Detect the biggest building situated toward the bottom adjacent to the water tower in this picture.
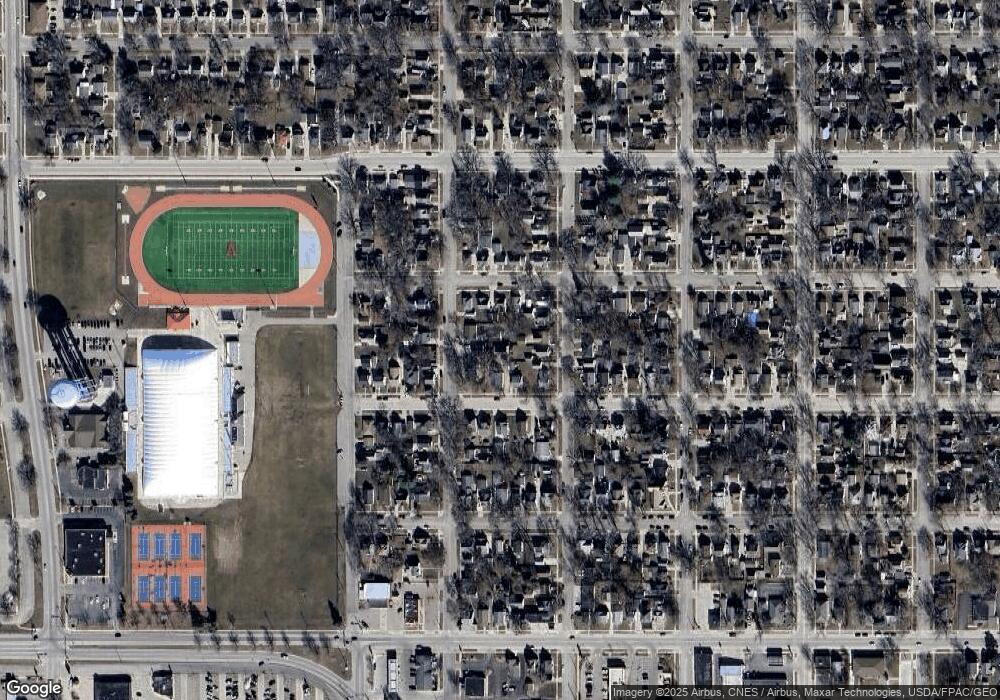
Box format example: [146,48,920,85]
[67,415,108,447]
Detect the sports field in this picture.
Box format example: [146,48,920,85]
[145,207,299,293]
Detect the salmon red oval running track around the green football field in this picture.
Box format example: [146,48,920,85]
[130,193,333,310]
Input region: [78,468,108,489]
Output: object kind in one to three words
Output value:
house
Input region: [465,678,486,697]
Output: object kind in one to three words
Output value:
building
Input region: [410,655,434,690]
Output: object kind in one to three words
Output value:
building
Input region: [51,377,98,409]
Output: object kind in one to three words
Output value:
water tower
